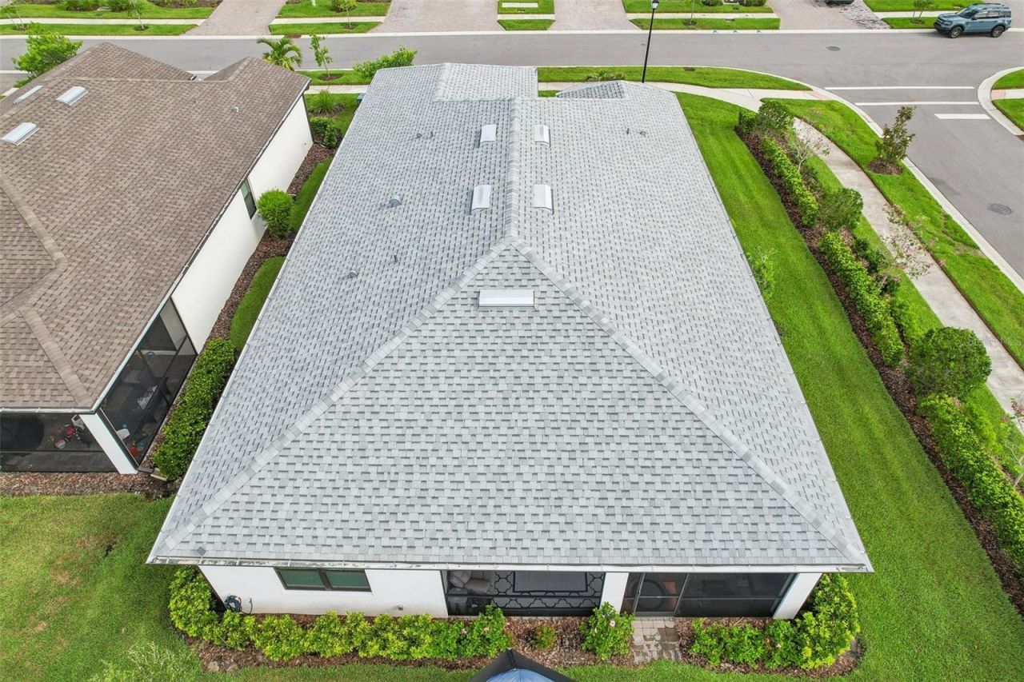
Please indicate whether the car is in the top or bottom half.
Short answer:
top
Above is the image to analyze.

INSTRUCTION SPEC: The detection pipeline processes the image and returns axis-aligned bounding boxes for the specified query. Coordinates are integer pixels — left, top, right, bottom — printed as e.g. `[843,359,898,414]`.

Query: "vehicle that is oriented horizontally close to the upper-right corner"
[931,0,1022,38]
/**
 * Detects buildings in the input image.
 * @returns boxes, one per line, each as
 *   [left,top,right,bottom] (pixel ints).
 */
[145,62,875,619]
[0,42,327,473]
